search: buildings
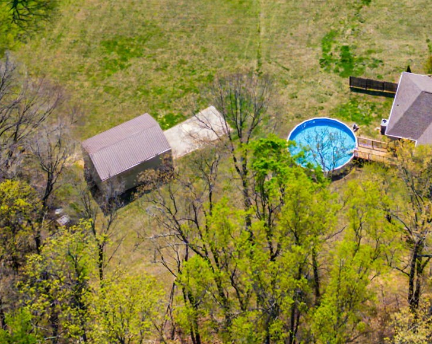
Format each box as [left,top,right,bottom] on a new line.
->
[83,114,173,198]
[385,69,432,172]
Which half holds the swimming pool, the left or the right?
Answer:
right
